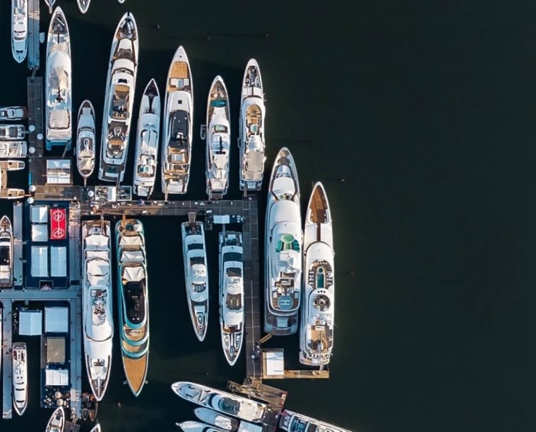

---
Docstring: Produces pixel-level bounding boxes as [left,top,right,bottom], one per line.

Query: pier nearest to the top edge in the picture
[28,0,40,69]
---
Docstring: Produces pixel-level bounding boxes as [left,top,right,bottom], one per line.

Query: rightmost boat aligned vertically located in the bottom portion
[298,182,334,368]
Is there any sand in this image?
No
